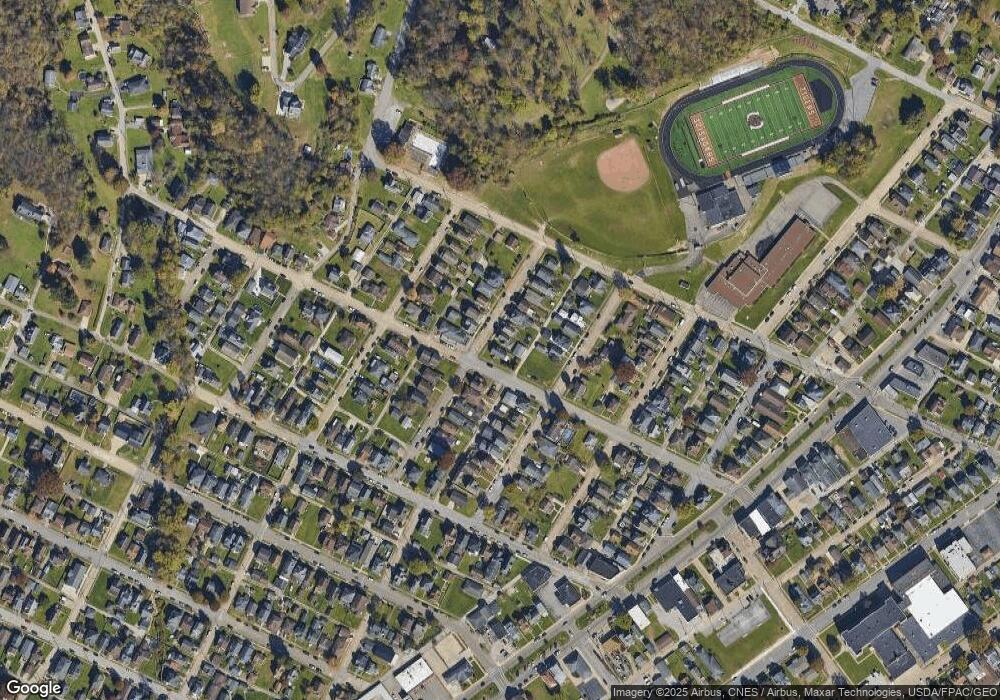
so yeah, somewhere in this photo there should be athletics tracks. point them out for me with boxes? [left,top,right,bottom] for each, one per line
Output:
[666,62,845,198]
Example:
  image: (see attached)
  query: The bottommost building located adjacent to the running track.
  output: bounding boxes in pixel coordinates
[706,217,815,309]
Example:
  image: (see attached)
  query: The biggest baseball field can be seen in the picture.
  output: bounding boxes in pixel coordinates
[512,136,687,257]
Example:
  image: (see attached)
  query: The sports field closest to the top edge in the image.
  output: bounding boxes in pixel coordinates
[676,72,835,175]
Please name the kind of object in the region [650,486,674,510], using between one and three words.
house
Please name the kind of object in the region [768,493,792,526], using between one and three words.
building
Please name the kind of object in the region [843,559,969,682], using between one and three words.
building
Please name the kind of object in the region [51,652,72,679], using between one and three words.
house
